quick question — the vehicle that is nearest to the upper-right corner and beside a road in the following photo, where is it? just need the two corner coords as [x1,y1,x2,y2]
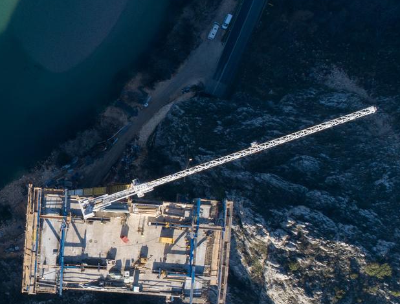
[222,12,236,29]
